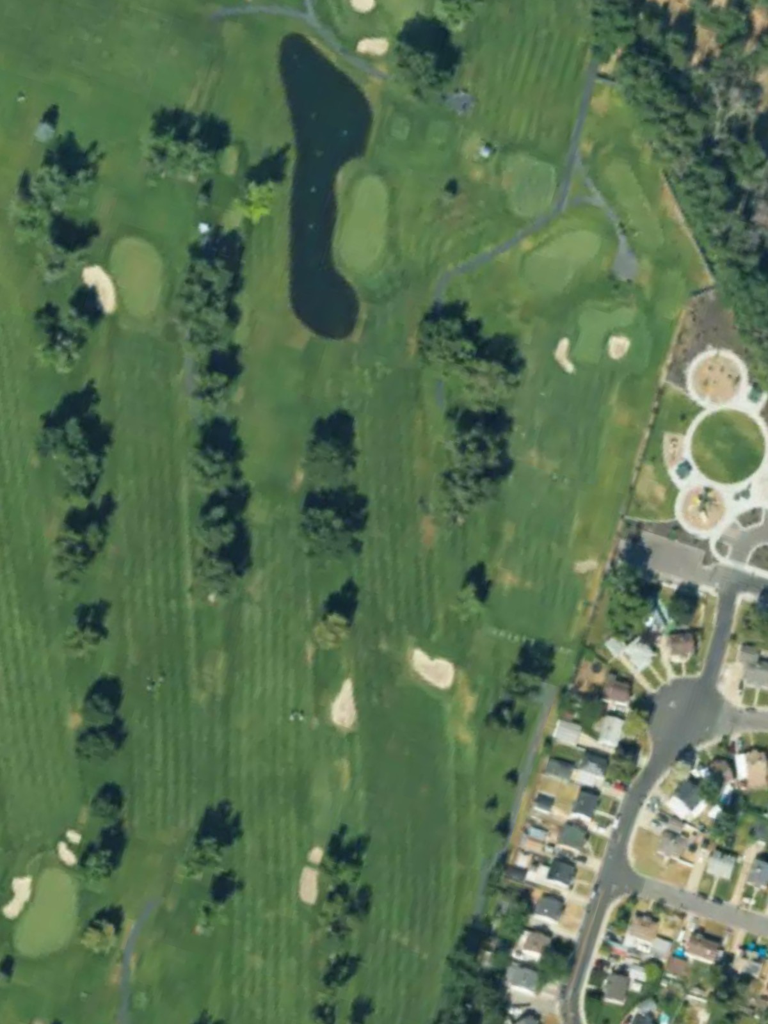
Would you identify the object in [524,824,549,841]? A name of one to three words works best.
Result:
shed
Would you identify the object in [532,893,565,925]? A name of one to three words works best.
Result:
house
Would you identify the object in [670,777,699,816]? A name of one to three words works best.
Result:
house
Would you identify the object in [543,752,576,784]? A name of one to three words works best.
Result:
building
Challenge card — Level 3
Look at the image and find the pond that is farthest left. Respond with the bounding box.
[280,34,371,338]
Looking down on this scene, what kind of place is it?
golf course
